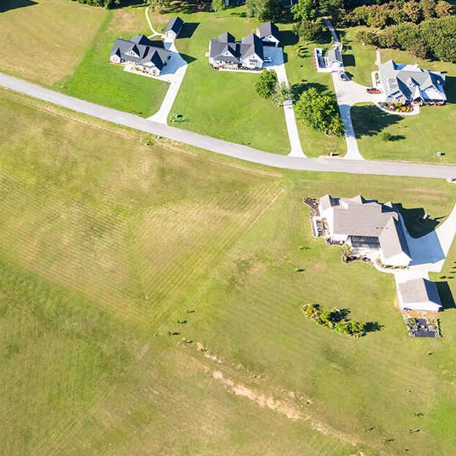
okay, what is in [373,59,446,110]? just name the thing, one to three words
house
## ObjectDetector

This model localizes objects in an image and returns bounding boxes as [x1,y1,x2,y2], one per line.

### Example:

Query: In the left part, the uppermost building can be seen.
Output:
[159,17,187,45]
